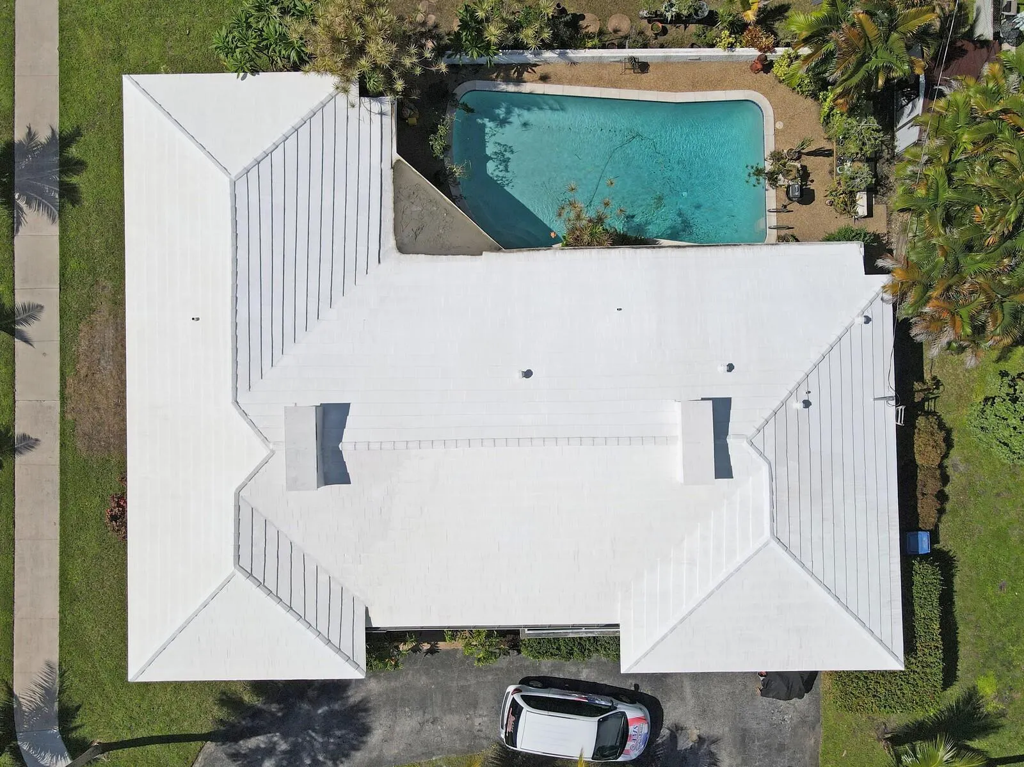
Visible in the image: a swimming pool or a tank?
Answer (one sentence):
Looking from above, you can make out a swimming pool.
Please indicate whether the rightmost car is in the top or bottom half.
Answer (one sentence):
It is in the bottom half that the rightmost car appears.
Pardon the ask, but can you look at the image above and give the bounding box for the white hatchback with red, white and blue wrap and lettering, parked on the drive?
[501,678,649,767]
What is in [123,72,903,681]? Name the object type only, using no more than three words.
house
